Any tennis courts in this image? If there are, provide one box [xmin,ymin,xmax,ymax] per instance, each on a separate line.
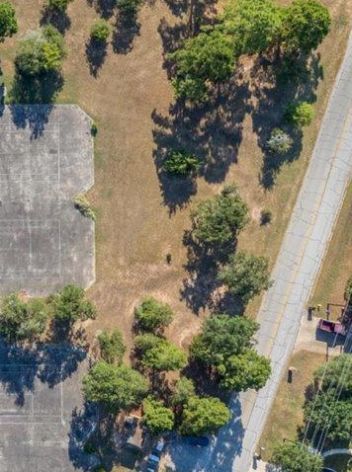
[0,346,94,444]
[0,443,94,472]
[0,104,95,194]
[0,193,95,297]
